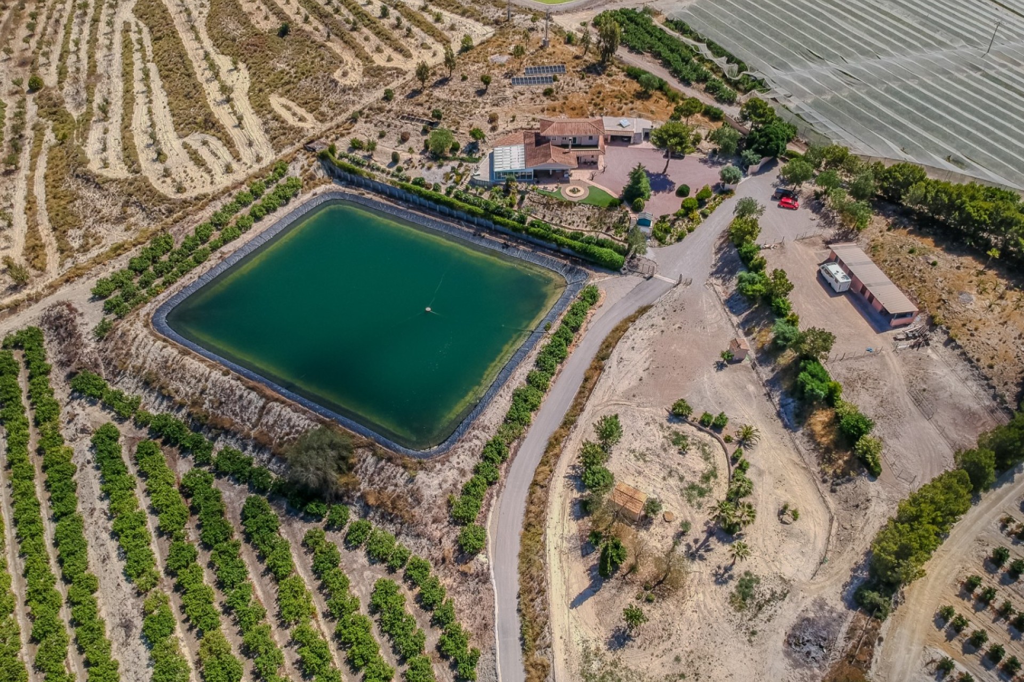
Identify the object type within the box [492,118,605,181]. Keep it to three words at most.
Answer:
house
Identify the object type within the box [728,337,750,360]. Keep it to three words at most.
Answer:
shed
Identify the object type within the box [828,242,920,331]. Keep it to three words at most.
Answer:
shed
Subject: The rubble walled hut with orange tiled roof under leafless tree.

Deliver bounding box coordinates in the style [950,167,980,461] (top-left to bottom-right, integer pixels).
[610,481,648,520]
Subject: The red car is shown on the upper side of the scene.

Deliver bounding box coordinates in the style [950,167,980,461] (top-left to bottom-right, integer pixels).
[778,197,800,209]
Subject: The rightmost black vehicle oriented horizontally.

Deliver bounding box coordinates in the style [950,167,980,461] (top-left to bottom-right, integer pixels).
[773,188,800,201]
